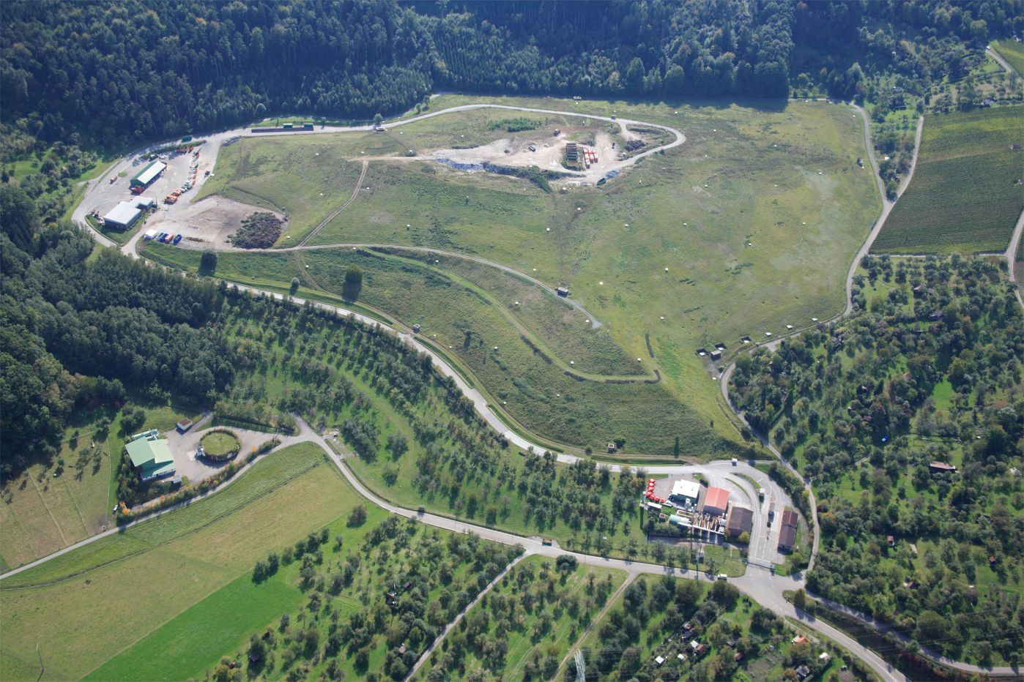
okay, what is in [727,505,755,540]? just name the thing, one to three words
building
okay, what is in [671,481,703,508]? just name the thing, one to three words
building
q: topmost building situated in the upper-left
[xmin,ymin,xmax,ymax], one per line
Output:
[125,161,167,190]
